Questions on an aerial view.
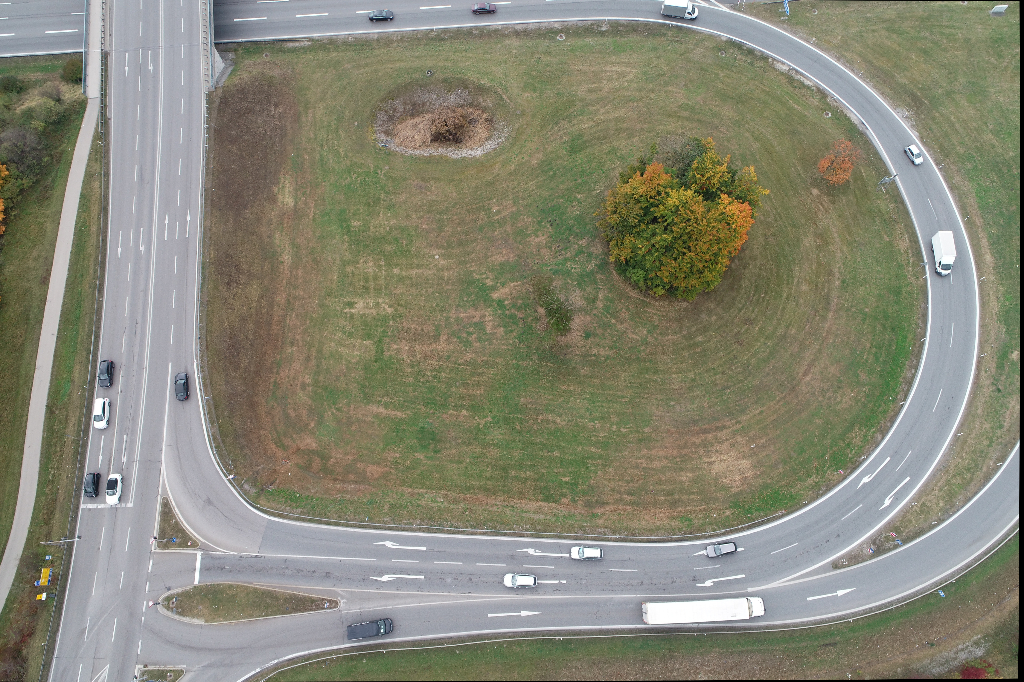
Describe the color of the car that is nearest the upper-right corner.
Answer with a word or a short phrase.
white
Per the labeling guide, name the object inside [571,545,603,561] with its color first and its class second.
white car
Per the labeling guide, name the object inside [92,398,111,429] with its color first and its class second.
white car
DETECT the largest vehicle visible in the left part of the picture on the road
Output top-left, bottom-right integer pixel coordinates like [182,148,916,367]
[346,617,392,641]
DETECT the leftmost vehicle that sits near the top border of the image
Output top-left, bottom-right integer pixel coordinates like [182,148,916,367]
[369,9,394,22]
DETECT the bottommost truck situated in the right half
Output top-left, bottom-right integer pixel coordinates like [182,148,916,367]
[638,594,766,623]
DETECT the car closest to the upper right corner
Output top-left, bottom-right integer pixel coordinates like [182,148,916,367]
[903,145,923,165]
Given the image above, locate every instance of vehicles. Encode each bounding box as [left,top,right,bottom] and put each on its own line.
[83,472,101,499]
[903,145,923,165]
[104,474,123,506]
[663,0,699,19]
[369,9,394,22]
[705,541,739,559]
[504,572,537,589]
[346,617,392,641]
[571,545,603,561]
[472,2,496,15]
[92,398,111,429]
[97,360,115,388]
[174,373,190,401]
[931,231,956,274]
[638,594,766,623]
